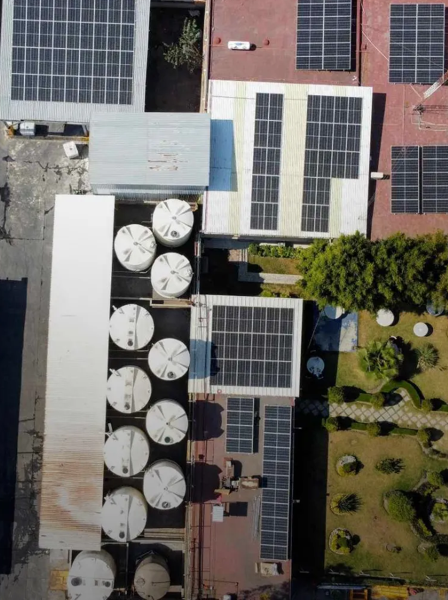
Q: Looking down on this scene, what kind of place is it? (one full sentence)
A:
It's an industrial area.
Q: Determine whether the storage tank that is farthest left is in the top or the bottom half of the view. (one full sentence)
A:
The storage tank that is farthest left sits in the bottom half of the picture.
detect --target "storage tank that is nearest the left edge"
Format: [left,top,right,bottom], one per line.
[67,546,118,600]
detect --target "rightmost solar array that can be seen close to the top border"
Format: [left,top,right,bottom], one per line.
[390,4,445,84]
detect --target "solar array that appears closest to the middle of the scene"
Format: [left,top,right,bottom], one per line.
[210,306,294,388]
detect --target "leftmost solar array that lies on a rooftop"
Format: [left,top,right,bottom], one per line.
[10,0,135,104]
